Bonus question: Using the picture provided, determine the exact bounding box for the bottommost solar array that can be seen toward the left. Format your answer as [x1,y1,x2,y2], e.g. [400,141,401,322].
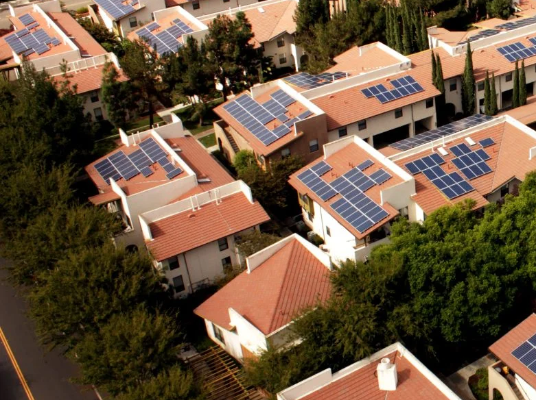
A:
[94,138,194,182]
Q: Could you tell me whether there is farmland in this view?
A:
No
